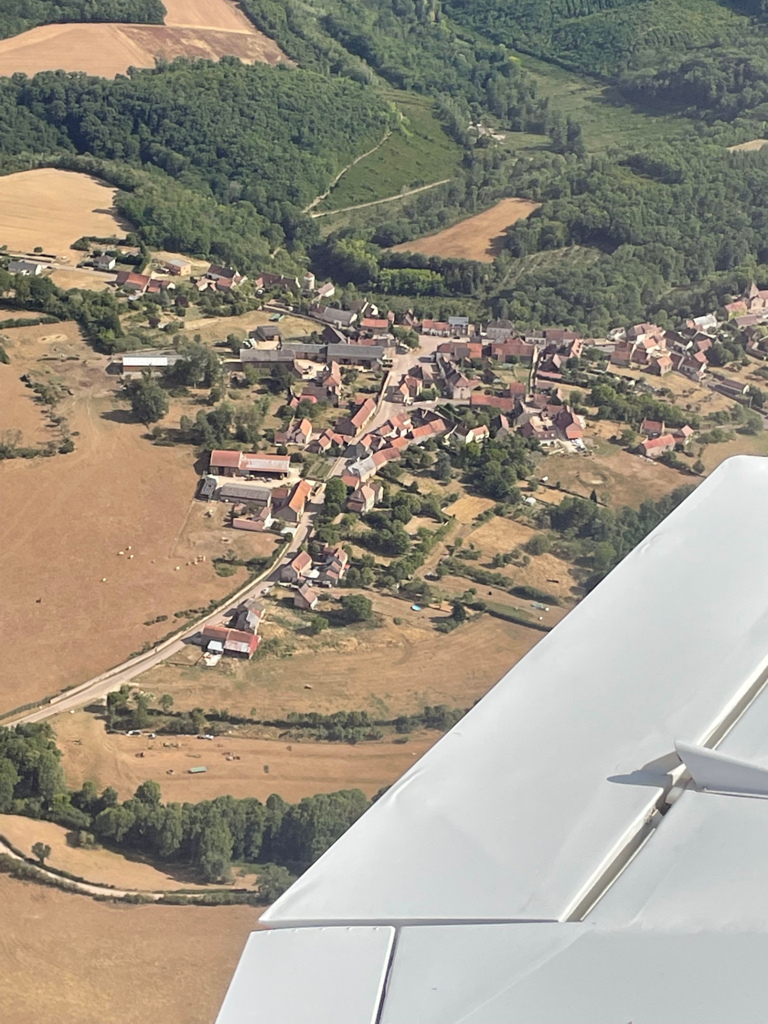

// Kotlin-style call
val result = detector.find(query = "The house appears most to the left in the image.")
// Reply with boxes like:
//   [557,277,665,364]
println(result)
[7,262,41,275]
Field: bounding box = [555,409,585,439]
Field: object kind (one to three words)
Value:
barn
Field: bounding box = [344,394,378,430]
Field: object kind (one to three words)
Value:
house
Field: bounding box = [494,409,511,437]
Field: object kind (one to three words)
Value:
house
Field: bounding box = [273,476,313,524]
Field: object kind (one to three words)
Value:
barn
